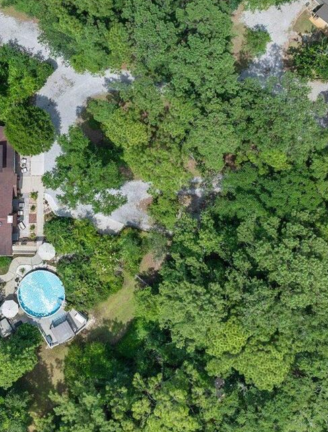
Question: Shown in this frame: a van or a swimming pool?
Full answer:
The one in the frame is a swimming pool.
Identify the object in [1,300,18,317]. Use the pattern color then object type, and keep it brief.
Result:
white umbrella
